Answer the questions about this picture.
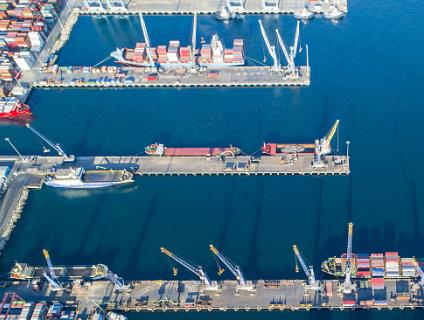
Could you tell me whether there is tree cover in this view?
No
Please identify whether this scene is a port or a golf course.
port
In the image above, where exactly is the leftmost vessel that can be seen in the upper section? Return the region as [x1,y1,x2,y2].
[0,92,33,118]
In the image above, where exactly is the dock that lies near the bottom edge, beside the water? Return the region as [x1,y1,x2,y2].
[108,280,424,312]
